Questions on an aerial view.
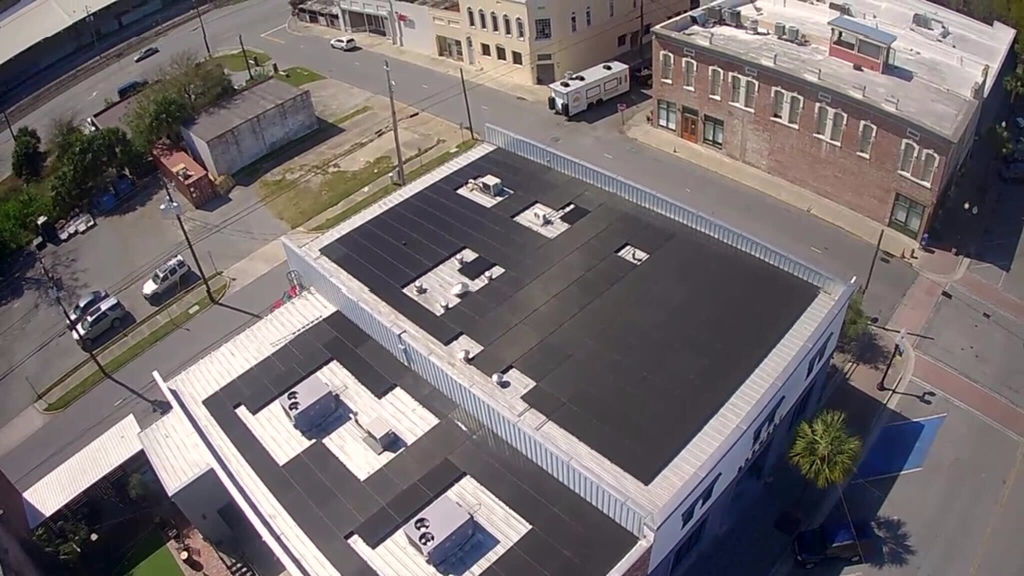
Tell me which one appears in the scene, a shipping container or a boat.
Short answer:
shipping container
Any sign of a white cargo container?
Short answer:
No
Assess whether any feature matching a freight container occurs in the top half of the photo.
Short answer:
Yes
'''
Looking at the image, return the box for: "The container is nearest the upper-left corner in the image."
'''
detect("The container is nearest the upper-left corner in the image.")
[152,134,215,206]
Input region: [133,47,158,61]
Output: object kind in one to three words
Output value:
car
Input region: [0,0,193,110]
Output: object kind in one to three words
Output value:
warehouse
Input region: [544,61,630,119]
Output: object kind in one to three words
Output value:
trailer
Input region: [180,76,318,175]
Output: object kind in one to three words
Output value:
building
